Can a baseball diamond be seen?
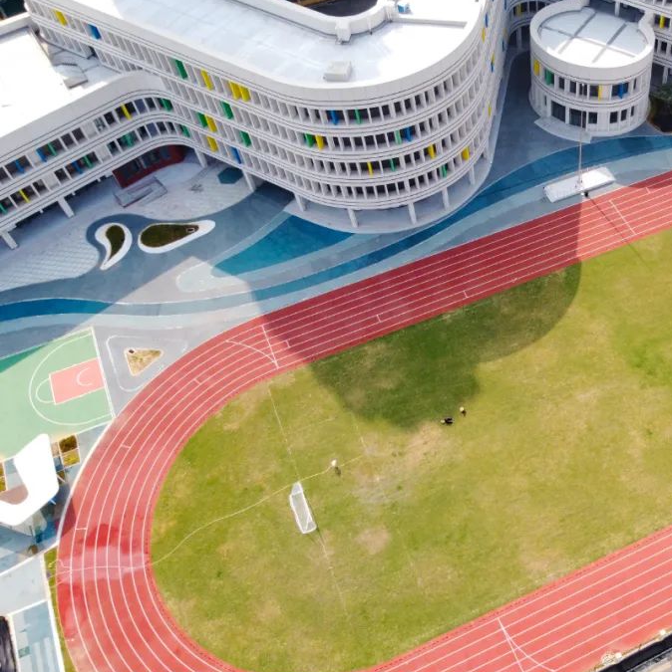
No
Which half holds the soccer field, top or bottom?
bottom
